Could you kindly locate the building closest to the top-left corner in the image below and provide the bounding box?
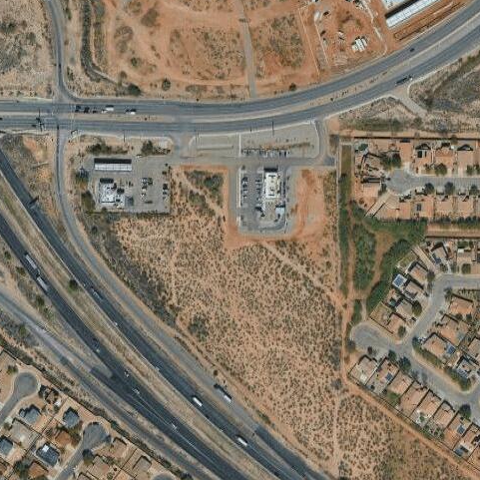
[100,183,133,208]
